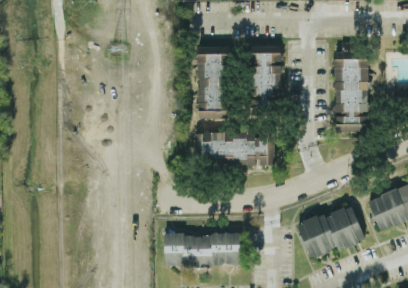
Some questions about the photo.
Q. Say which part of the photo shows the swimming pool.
top right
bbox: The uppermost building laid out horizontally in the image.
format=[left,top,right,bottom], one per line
[196,132,276,168]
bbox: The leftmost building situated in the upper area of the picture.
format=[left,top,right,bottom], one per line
[196,46,226,121]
